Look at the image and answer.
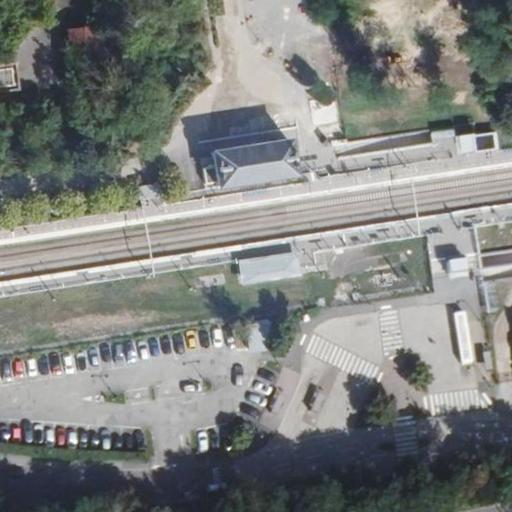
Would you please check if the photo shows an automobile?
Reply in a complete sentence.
Yes, this view includes an automobile.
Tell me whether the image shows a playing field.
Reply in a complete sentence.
No, no playing field is visible in the view.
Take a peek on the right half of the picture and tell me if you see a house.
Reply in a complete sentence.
Yes, the scene does show a house on the right half of the picture.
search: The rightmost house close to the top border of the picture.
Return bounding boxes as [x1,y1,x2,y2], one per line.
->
[67,24,94,44]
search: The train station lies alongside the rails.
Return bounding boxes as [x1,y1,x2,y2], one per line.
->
[0,138,512,296]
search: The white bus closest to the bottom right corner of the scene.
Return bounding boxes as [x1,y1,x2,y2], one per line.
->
[455,310,476,368]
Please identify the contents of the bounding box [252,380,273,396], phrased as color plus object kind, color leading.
white car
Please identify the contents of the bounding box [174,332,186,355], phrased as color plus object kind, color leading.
gray vehicle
